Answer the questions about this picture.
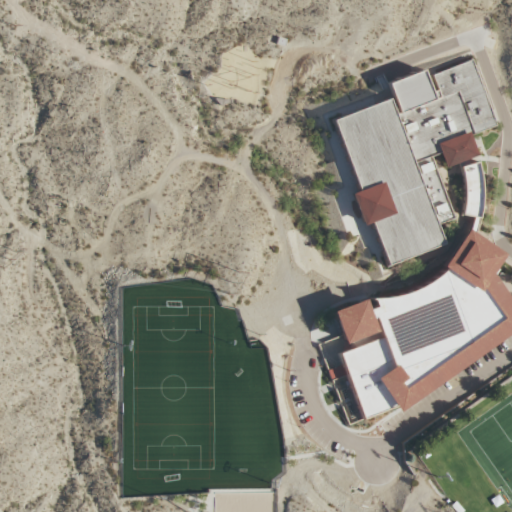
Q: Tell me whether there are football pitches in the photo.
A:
Yes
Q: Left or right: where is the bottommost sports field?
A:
right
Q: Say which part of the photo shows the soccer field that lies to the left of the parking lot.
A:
bottom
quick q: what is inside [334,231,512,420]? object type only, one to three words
building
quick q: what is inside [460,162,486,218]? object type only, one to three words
building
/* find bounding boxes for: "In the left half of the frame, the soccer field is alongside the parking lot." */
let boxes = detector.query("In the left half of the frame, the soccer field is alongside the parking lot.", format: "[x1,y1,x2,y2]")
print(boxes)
[124,278,284,496]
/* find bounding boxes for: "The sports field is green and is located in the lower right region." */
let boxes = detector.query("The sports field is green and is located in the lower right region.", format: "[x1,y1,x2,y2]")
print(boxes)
[459,392,512,512]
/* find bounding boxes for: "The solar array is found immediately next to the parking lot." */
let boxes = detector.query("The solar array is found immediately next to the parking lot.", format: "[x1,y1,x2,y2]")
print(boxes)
[390,296,464,354]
